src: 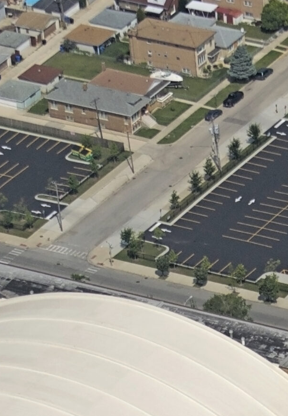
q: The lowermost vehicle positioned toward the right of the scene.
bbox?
[205,109,224,122]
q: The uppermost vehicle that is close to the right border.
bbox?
[257,68,275,82]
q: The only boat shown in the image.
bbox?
[151,70,187,88]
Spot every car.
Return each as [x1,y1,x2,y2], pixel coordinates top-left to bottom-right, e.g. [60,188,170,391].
[257,68,275,82]
[205,109,224,122]
[224,90,244,107]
